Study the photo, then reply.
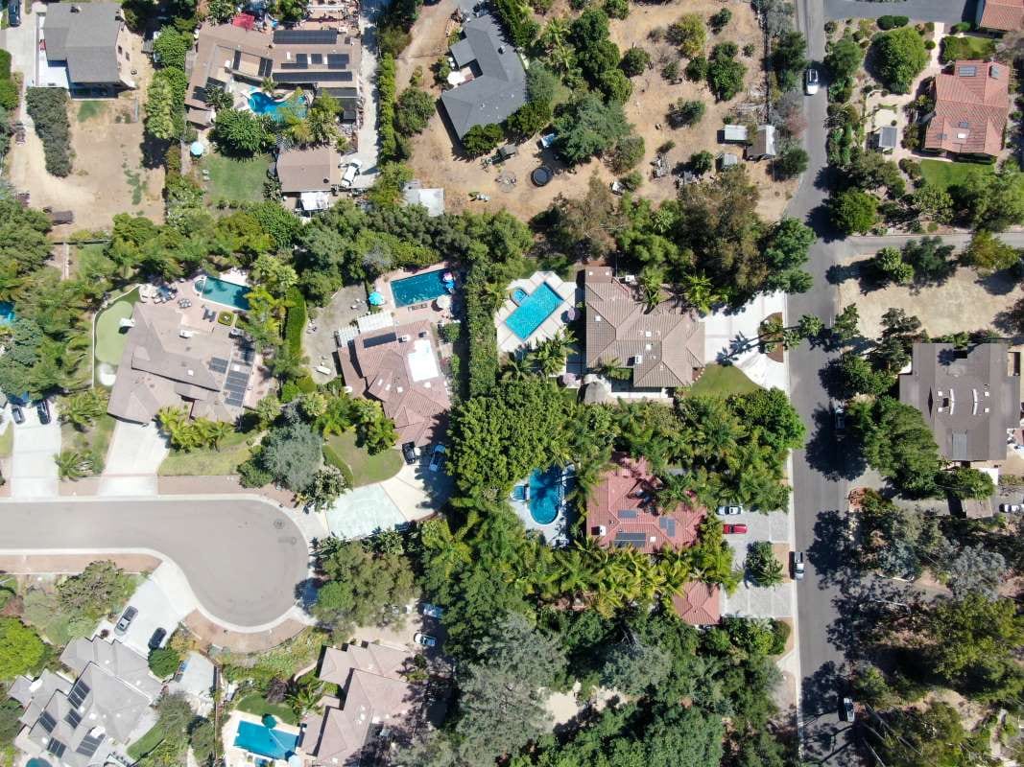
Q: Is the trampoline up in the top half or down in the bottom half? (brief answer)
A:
top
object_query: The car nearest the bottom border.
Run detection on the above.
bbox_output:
[843,698,857,725]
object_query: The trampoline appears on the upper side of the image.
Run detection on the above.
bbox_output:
[531,163,551,185]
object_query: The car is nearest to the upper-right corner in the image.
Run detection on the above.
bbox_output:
[807,66,821,94]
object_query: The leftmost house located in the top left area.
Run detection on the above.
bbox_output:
[42,1,136,102]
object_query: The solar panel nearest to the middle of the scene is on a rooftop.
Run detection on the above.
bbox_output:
[364,333,397,348]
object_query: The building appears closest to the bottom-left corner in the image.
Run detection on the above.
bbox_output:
[6,633,170,767]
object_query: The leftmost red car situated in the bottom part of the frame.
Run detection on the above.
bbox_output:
[723,524,750,536]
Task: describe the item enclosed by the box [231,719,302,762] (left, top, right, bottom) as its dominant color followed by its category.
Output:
blue swimming pool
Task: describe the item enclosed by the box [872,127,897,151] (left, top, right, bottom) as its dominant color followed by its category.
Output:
gray gazebo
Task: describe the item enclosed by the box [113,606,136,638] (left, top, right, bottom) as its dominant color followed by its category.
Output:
gray vehicle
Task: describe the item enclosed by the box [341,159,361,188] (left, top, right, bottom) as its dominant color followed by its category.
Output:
white car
